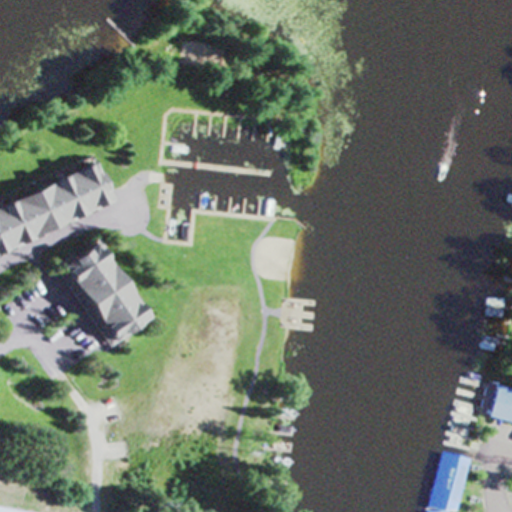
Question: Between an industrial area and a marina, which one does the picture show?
marina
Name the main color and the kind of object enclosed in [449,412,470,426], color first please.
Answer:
white boat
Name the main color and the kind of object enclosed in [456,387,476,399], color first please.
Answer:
white boat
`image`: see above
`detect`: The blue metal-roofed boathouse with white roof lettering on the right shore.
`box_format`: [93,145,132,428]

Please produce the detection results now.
[428,451,472,512]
